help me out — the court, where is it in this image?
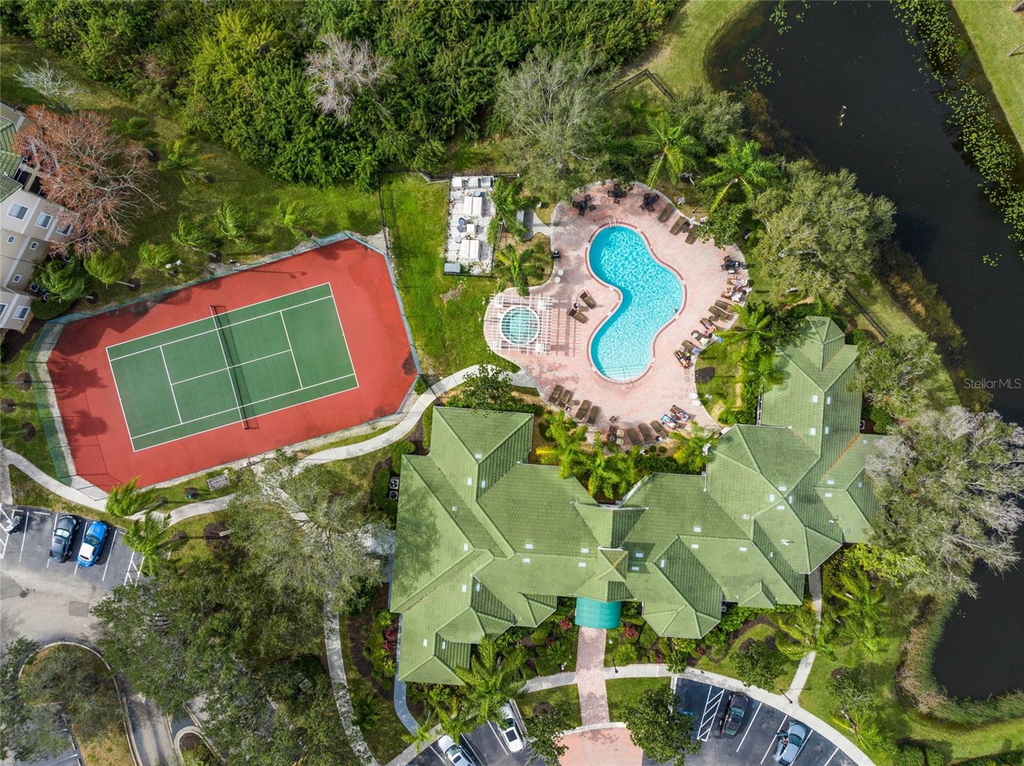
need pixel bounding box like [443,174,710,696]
[48,239,418,495]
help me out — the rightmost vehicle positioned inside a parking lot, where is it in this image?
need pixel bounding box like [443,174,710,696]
[776,722,808,766]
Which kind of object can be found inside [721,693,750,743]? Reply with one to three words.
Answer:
car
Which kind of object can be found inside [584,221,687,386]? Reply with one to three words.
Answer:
swimming pool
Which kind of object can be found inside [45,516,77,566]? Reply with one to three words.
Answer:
car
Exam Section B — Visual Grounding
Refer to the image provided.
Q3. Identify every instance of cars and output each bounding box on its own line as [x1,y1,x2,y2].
[721,693,750,743]
[73,521,106,570]
[776,722,808,766]
[495,705,526,754]
[45,516,77,566]
[435,735,472,766]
